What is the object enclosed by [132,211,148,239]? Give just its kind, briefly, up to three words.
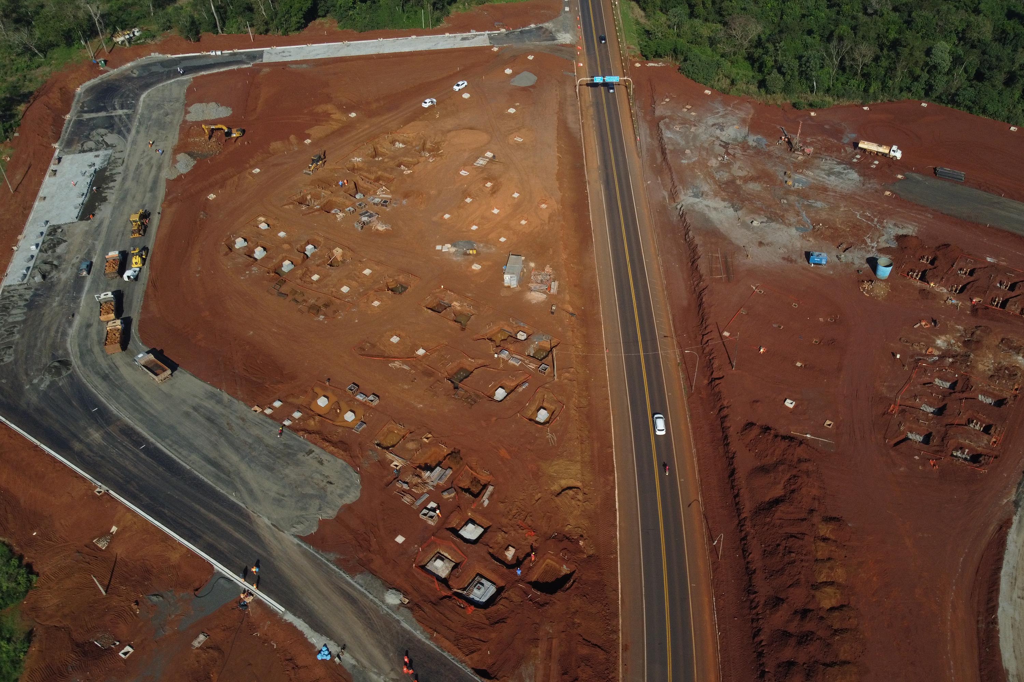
work vehicle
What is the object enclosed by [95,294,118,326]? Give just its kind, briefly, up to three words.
truck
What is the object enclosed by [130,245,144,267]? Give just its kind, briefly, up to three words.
work vehicle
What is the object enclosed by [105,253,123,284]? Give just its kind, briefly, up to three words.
vehicle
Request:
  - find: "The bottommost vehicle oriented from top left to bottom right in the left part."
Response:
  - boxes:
[138,354,173,387]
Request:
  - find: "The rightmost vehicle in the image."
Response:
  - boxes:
[855,135,901,158]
